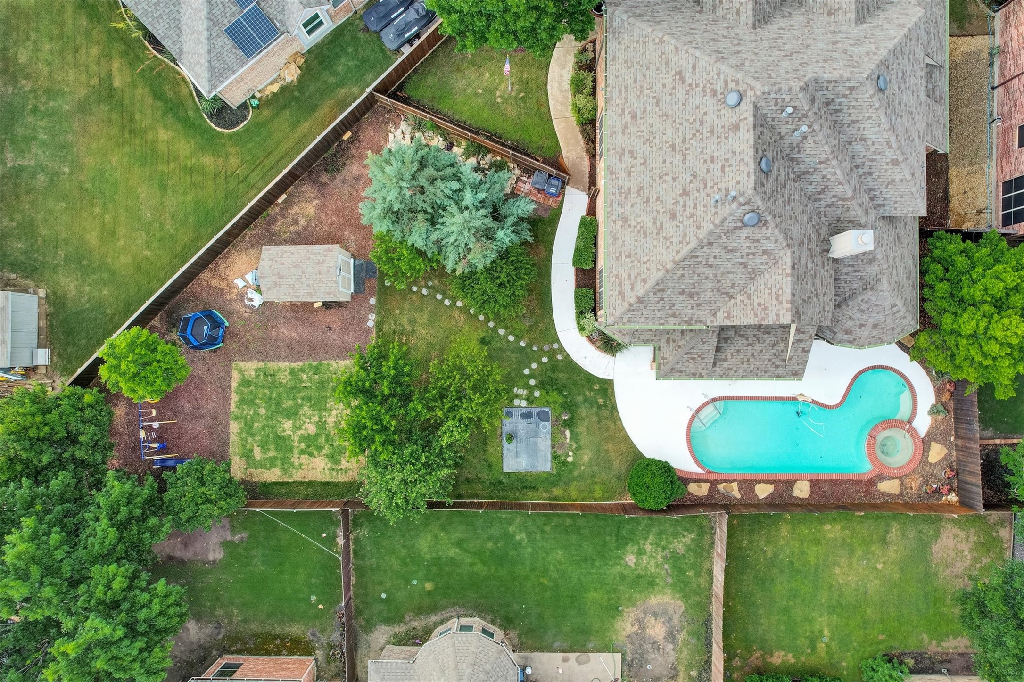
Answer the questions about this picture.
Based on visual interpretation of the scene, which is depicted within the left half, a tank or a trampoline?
trampoline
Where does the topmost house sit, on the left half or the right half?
left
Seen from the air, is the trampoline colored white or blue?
blue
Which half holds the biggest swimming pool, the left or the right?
right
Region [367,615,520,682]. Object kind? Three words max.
house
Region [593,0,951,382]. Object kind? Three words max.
house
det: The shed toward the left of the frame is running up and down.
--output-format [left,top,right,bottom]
[0,288,37,372]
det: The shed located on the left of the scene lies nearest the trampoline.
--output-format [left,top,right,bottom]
[258,245,355,301]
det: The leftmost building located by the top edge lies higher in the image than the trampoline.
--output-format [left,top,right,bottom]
[120,0,372,108]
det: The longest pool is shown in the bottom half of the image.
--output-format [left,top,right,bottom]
[678,364,919,480]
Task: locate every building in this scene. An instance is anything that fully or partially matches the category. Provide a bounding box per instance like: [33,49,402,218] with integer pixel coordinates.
[0,288,37,372]
[593,0,951,382]
[367,615,520,682]
[258,245,355,301]
[186,654,316,682]
[904,670,973,682]
[988,0,1024,229]
[120,0,372,108]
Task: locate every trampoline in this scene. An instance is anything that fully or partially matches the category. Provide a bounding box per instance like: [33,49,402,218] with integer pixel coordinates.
[178,308,230,352]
